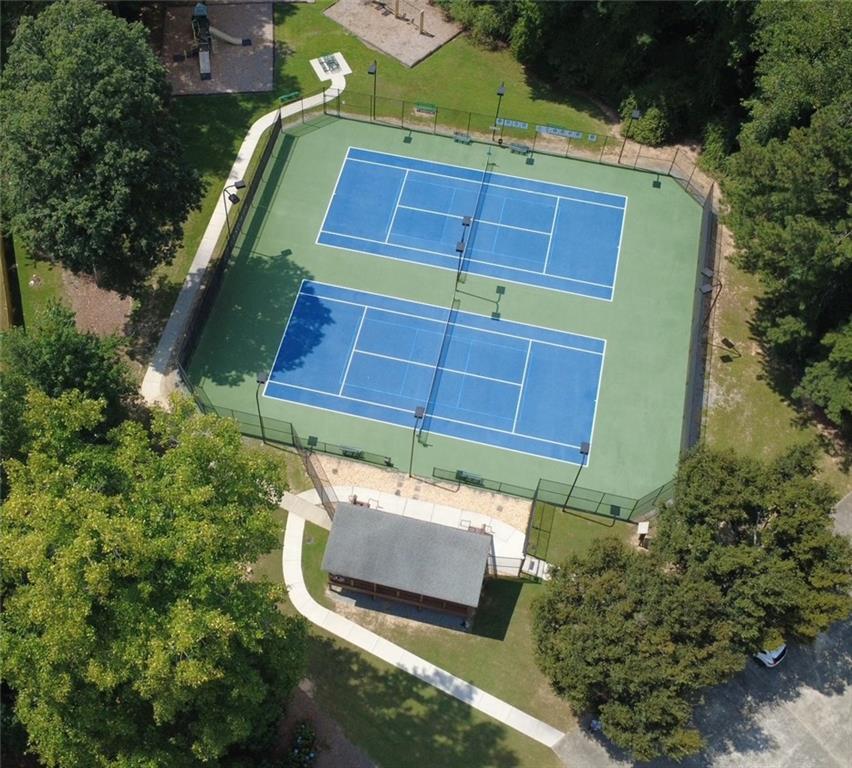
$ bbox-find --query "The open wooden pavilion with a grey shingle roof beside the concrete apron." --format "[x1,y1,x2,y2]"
[321,501,492,620]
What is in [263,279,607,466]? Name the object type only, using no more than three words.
tennis court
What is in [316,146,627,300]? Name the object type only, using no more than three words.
tennis court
